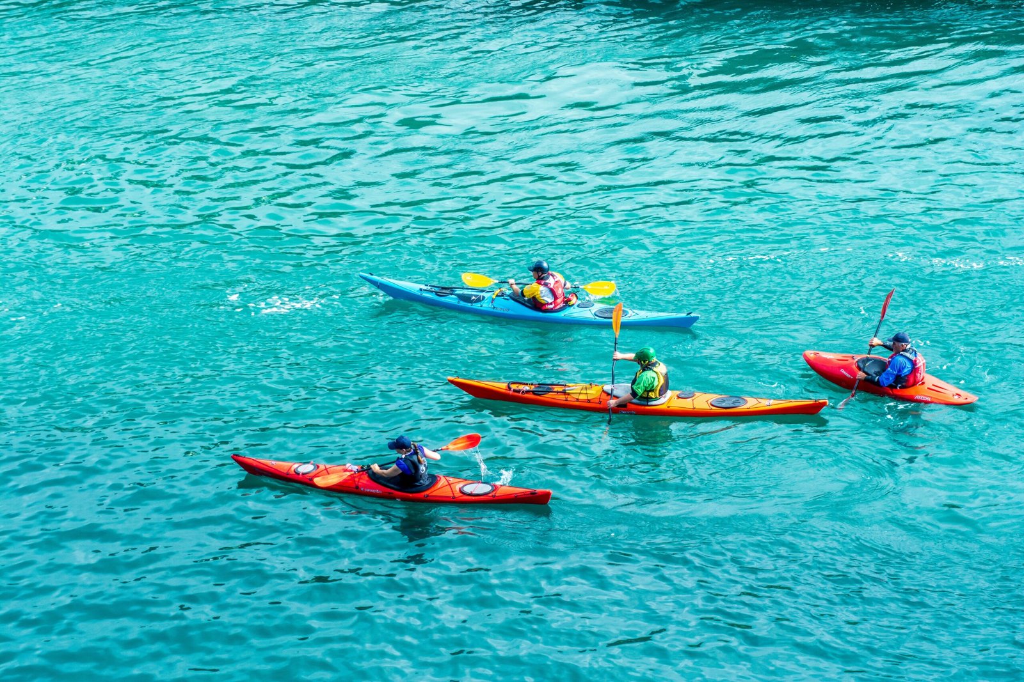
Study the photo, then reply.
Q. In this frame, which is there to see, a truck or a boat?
boat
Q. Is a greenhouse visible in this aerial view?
No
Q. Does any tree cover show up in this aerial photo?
No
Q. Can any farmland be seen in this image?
No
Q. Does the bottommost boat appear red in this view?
Yes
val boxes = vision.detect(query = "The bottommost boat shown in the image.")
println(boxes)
[231,455,551,510]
